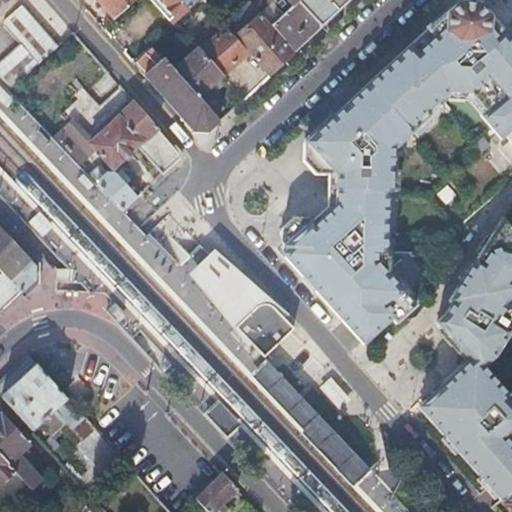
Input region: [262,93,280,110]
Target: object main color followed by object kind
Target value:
white car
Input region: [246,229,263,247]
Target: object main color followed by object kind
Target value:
white car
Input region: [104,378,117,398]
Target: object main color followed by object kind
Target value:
white vehicle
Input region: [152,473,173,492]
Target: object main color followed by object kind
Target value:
white vehicle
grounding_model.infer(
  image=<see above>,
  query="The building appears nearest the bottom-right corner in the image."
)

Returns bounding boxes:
[416,362,512,500]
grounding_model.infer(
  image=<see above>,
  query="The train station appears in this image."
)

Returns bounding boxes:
[0,84,420,512]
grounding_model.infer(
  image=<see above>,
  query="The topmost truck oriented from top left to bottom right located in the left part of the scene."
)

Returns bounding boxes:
[166,118,194,150]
